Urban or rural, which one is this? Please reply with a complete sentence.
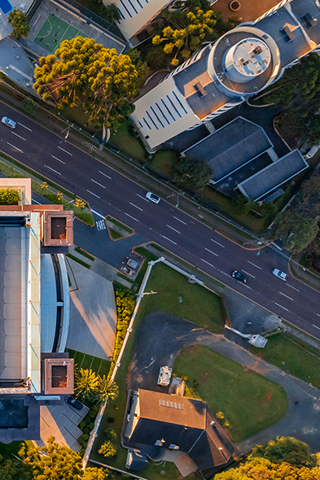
It looks urban.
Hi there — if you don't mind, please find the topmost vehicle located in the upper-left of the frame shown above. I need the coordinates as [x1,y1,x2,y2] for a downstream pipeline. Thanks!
[0,116,18,129]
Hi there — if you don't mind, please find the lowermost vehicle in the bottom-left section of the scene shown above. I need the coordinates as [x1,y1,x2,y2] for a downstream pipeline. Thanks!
[65,395,83,410]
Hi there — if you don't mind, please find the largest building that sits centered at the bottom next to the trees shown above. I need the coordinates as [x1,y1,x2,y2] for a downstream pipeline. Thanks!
[121,387,235,471]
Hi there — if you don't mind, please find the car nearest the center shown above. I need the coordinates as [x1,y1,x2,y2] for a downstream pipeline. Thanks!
[144,191,162,204]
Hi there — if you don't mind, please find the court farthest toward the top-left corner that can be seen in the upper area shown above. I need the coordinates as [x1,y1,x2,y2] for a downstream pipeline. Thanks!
[19,0,126,60]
